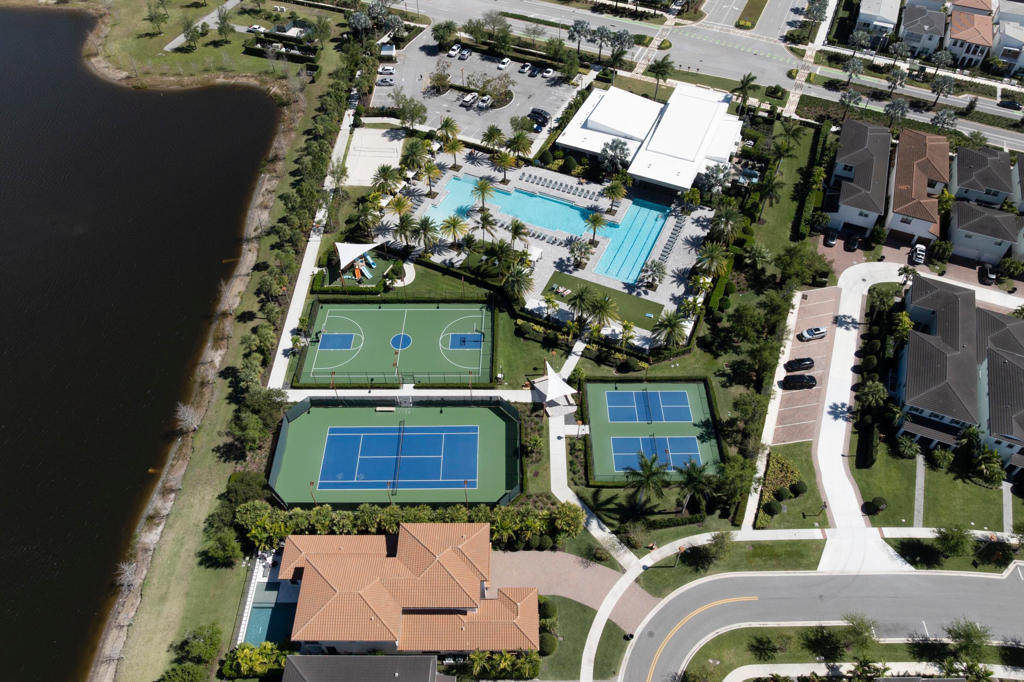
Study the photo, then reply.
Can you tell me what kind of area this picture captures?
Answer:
residential area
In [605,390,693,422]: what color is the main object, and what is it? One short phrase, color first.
blue sports court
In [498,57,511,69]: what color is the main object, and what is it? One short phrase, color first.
white vehicle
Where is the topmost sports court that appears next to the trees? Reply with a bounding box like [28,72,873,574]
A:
[343,128,406,185]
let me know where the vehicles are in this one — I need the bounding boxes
[981,263,998,285]
[479,95,492,108]
[459,49,473,59]
[783,374,818,390]
[246,24,266,33]
[462,92,480,105]
[529,64,544,77]
[999,100,1022,110]
[800,325,829,342]
[498,57,511,69]
[519,61,533,73]
[530,106,551,119]
[524,123,545,134]
[825,228,840,247]
[375,78,395,86]
[785,358,816,373]
[377,65,396,75]
[530,113,549,127]
[912,243,928,264]
[448,43,462,56]
[541,67,555,78]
